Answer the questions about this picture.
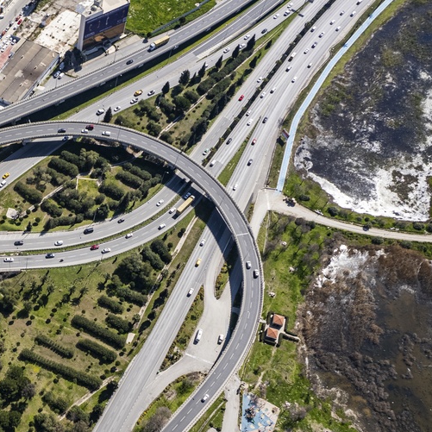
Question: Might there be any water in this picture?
Yes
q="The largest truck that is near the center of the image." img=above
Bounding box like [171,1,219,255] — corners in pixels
[174,195,195,217]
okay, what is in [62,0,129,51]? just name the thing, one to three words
building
